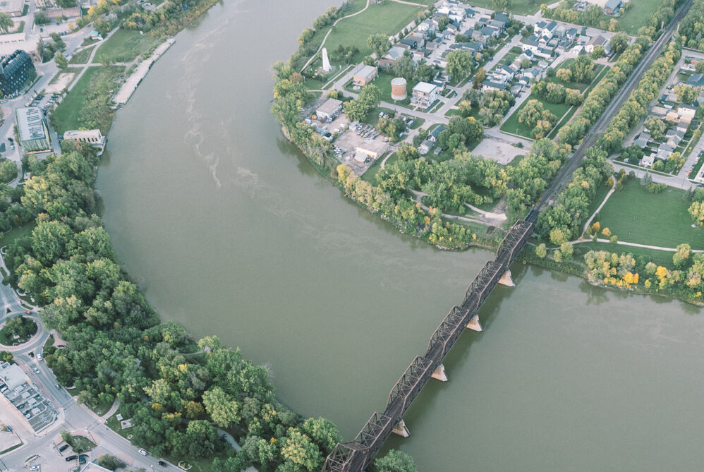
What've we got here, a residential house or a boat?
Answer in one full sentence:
Looking from above, you can make out a residential house.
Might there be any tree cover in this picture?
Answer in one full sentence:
Yes, the picture does contain tree cover.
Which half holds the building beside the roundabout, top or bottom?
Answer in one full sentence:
It is in the bottom half that the building beside the roundabout appears.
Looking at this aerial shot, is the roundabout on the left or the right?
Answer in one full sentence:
You can find the roundabout on the left side of the picture.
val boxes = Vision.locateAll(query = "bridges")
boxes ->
[322,218,540,472]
